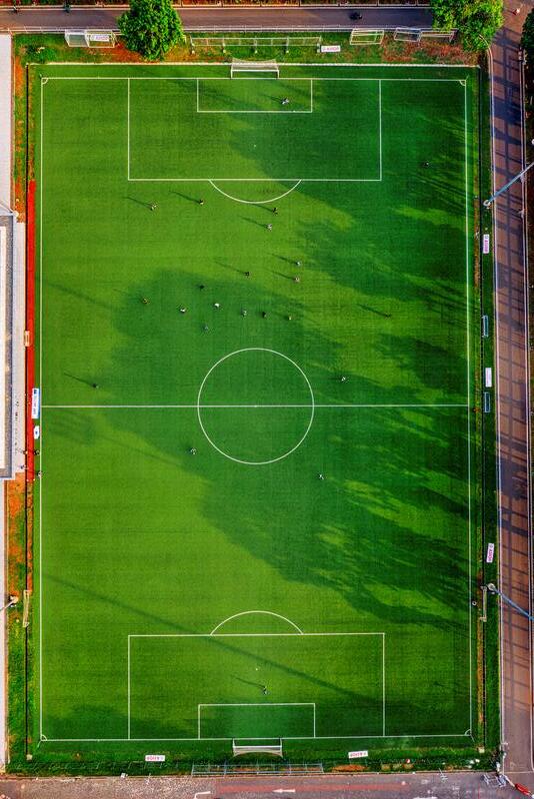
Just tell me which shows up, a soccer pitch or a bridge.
soccer pitch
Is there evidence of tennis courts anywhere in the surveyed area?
No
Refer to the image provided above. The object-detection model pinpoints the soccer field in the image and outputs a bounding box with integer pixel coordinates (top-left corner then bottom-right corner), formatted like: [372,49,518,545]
[27,62,479,749]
